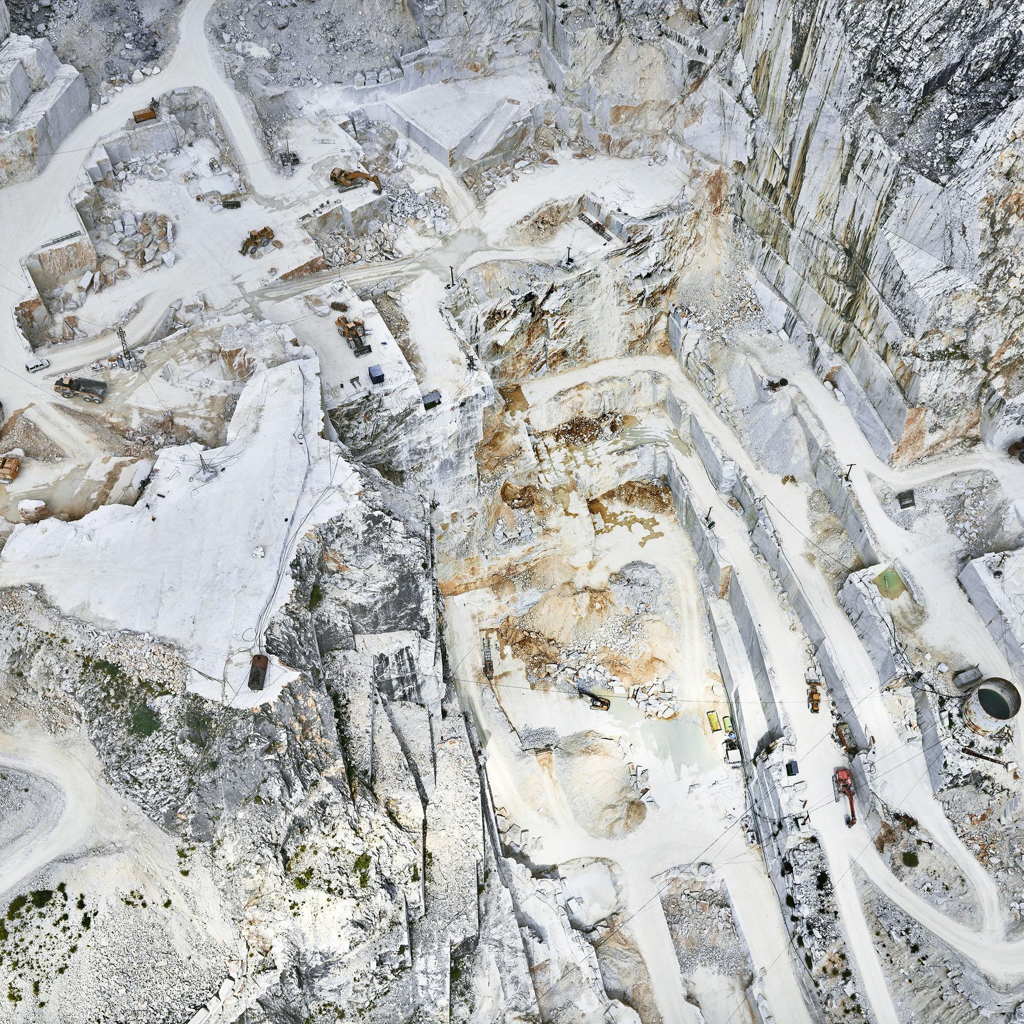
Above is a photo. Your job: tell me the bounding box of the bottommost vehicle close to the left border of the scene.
[0,460,23,487]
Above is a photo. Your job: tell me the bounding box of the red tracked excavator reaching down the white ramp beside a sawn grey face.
[834,772,857,828]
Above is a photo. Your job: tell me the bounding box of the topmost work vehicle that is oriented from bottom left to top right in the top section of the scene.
[233,226,268,261]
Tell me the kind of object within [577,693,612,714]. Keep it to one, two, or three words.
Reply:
work vehicle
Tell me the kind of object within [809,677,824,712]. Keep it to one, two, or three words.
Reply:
work vehicle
